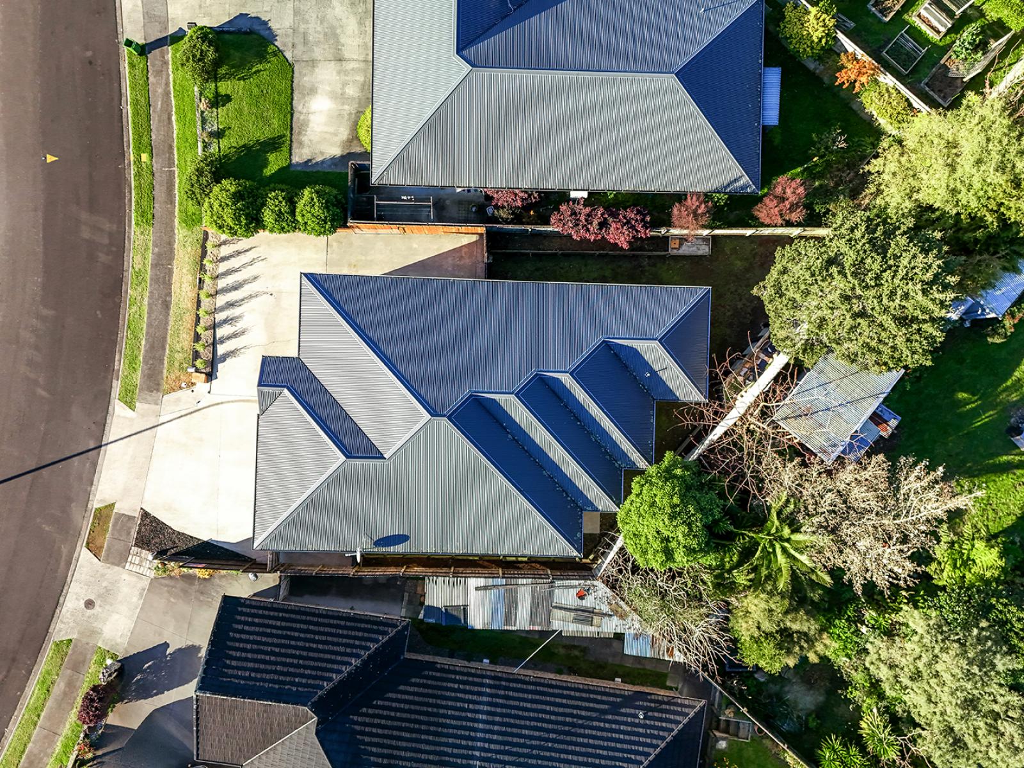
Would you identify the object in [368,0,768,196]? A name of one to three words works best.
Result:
house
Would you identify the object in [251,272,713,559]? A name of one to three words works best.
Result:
house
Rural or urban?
urban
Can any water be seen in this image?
No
